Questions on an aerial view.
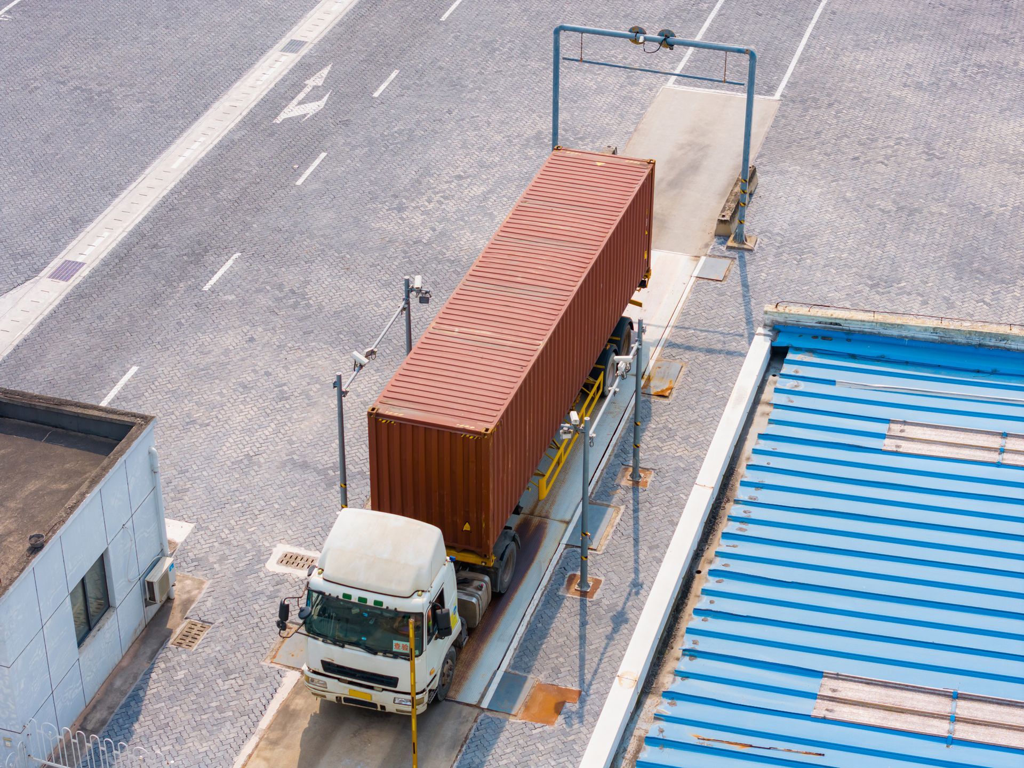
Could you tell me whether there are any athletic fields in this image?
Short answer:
No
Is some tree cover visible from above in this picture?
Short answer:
No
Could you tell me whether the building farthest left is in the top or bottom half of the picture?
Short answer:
bottom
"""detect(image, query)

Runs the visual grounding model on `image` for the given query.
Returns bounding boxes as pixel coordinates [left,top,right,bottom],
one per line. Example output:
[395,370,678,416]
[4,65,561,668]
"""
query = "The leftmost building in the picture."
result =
[0,387,178,768]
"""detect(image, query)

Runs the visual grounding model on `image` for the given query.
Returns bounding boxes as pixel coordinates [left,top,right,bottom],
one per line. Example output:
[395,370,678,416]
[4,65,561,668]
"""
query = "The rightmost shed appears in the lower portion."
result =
[580,302,1024,768]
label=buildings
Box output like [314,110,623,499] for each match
[0,387,178,768]
[580,302,1024,768]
